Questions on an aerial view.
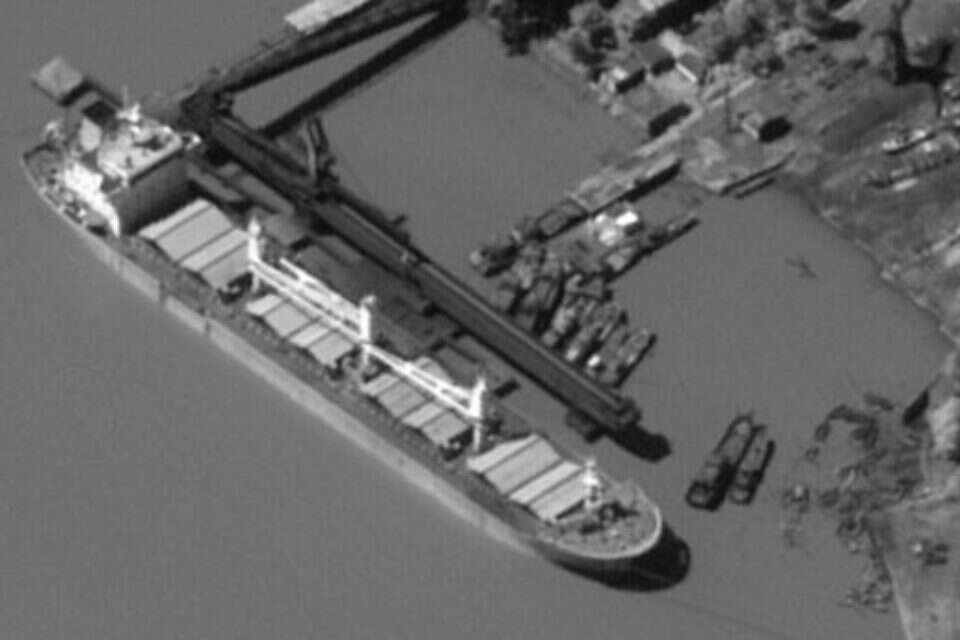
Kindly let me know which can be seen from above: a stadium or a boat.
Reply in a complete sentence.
The one in the frame is a boat.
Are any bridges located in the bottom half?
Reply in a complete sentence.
No, no bridge appears in the bottom half.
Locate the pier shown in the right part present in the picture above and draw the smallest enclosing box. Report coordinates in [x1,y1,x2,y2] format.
[567,143,687,217]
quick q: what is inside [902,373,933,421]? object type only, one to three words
boat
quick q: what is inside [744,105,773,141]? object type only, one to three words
house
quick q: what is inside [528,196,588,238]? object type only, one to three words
ship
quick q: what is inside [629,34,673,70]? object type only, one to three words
house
